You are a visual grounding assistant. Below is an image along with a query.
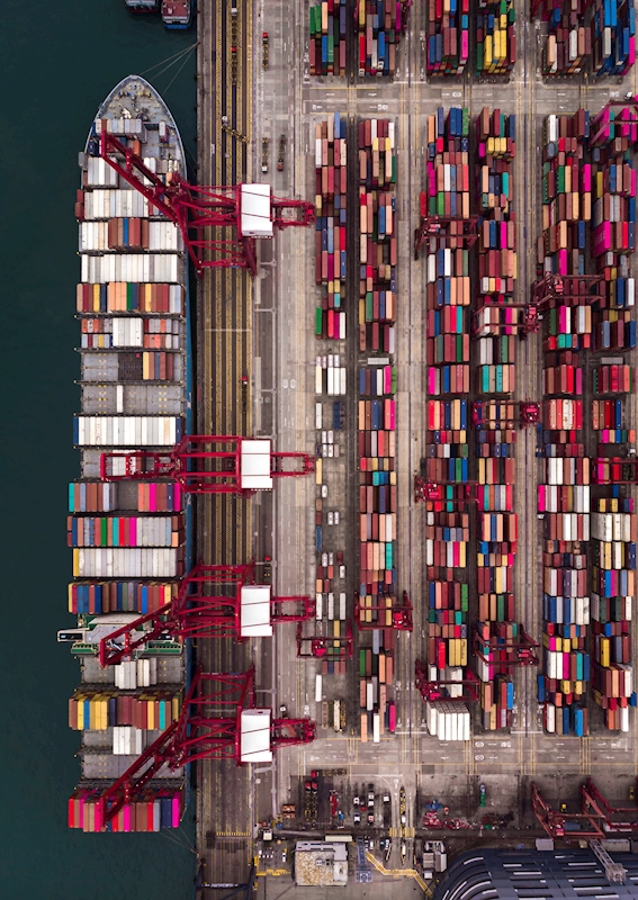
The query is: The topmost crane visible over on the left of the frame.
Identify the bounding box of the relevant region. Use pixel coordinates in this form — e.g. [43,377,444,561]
[99,129,316,279]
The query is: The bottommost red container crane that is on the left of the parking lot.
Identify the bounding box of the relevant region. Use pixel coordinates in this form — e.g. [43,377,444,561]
[99,664,316,832]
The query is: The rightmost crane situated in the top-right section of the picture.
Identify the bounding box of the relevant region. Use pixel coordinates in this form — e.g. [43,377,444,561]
[591,98,638,145]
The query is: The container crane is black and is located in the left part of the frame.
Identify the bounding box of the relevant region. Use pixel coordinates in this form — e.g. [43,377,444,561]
[188,854,259,900]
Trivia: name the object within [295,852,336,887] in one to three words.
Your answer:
building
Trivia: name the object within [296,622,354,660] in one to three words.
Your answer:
crane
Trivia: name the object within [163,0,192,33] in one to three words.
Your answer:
ship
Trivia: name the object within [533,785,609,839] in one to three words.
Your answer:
crane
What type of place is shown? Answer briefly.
port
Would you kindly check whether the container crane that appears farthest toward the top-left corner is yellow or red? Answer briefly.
red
